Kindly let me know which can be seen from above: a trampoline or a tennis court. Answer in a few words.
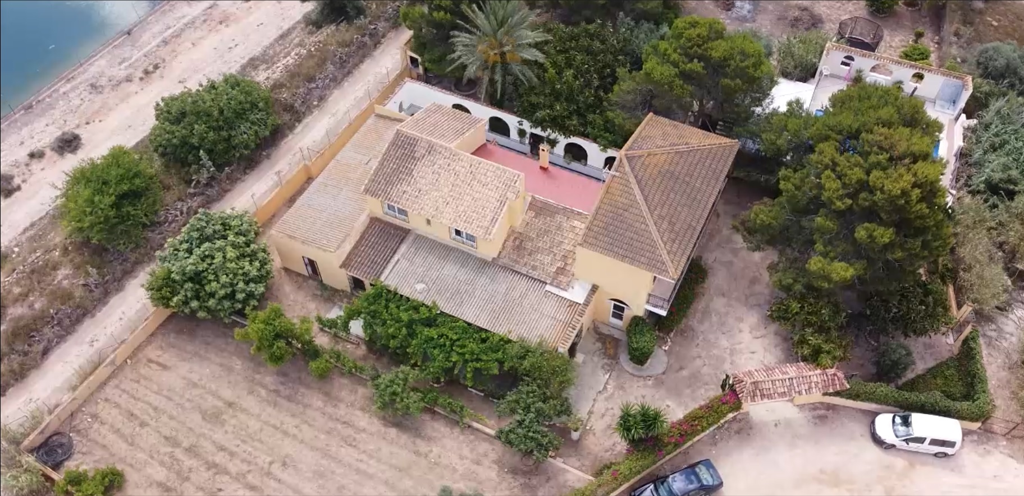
trampoline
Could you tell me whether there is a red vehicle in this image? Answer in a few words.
No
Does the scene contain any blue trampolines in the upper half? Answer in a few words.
No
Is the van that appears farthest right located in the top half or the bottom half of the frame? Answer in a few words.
bottom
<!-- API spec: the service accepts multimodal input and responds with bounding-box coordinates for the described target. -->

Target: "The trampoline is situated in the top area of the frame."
[837,10,888,49]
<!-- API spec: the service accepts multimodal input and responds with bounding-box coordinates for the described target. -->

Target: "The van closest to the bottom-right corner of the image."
[869,409,968,459]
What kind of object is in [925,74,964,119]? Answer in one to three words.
building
